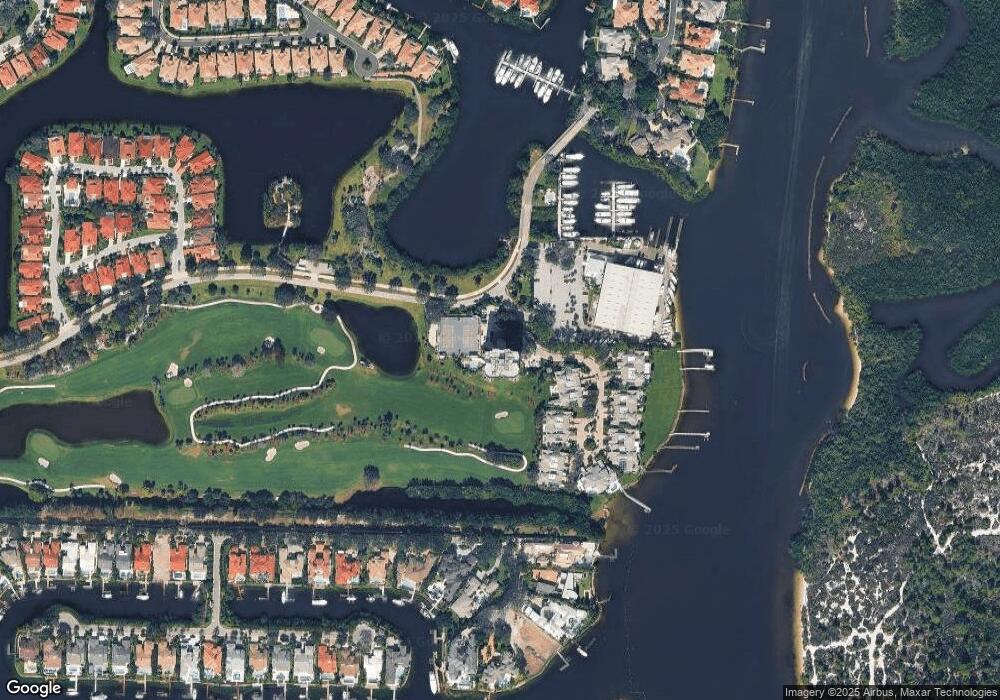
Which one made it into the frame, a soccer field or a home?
home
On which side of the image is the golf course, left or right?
left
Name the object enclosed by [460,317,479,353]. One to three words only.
tennis court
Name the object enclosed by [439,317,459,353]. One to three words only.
tennis court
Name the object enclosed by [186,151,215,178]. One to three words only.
house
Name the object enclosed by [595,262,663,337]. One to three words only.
shed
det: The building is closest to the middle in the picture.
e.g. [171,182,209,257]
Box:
[484,349,520,377]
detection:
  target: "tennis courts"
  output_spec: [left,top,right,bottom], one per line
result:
[460,317,479,353]
[439,317,459,353]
